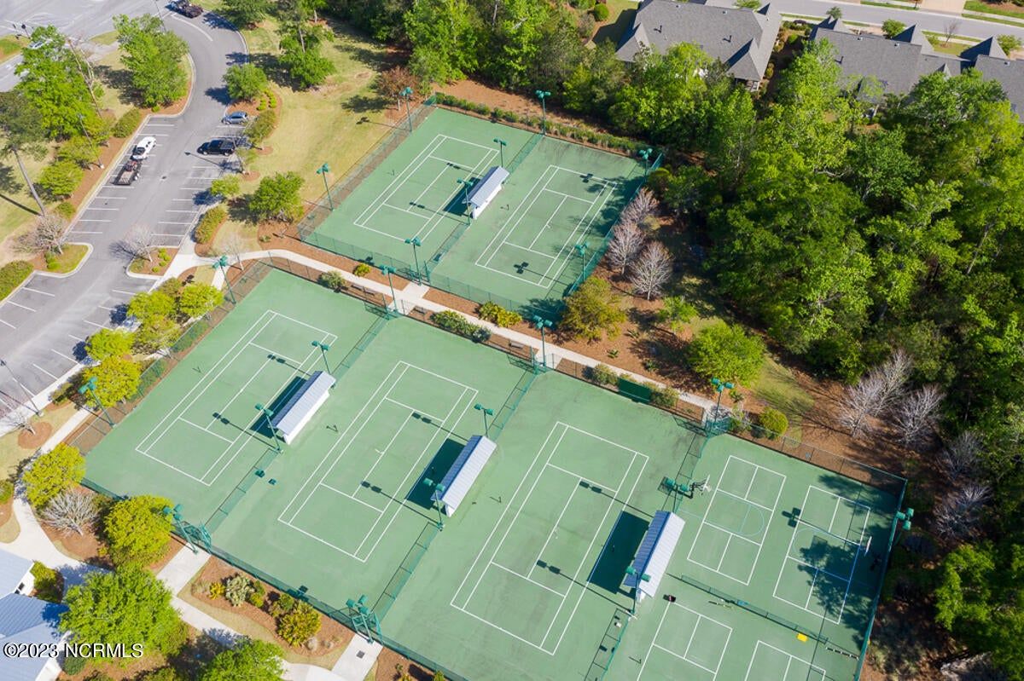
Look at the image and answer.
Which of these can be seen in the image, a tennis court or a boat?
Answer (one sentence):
I can see a tennis court in this picture.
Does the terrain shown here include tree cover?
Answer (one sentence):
Yes, some tree cover is visible.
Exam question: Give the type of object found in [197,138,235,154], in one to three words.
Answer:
vehicle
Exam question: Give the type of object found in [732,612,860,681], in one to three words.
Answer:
sports court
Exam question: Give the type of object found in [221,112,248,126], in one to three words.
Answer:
car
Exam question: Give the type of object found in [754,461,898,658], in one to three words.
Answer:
sports court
